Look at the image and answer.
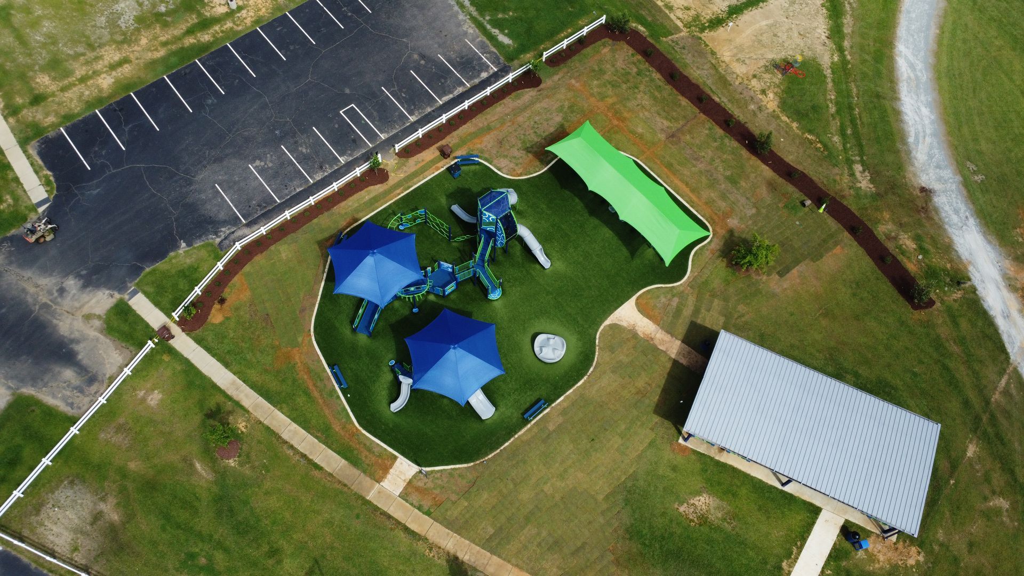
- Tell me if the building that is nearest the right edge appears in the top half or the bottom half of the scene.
bottom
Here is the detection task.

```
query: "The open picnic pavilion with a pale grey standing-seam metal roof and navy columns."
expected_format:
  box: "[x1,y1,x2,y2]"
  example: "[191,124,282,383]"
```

[683,329,943,543]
